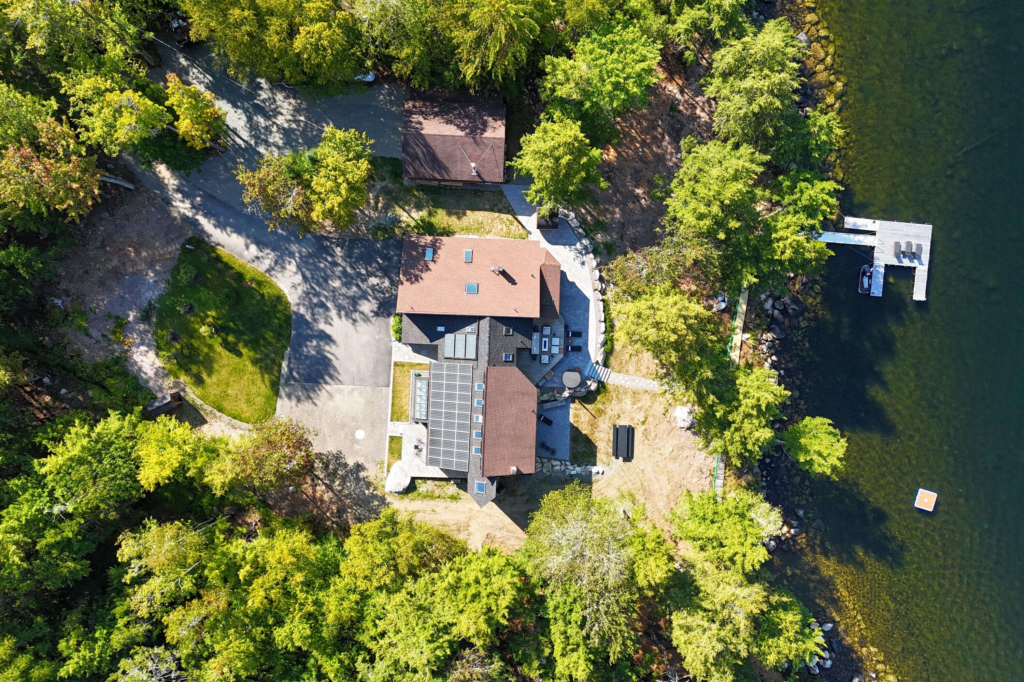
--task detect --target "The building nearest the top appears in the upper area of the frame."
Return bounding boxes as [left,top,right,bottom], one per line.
[402,89,506,185]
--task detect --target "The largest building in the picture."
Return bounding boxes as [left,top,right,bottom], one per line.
[396,236,561,508]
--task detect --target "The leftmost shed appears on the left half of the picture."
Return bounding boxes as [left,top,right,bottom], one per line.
[147,390,193,417]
